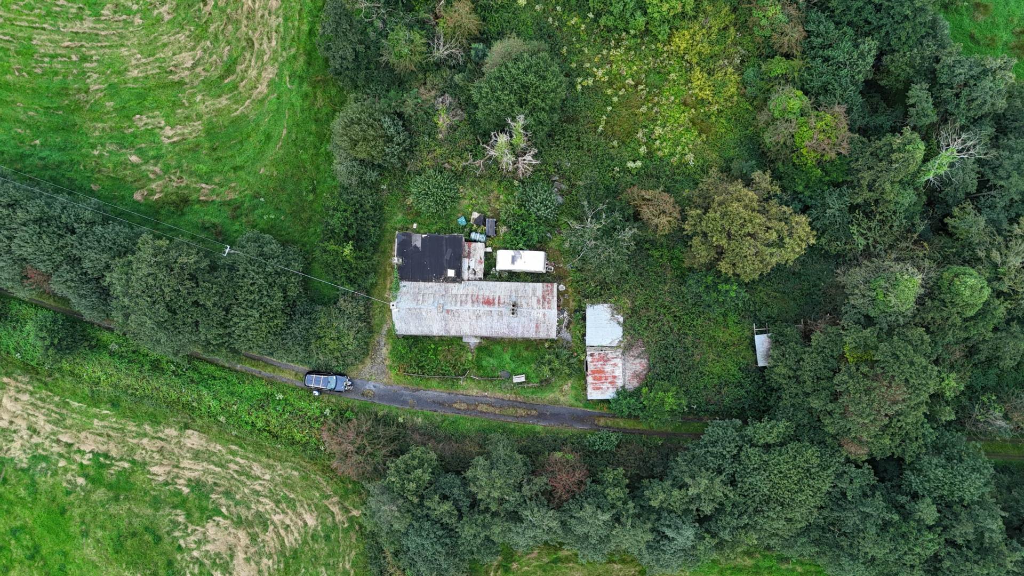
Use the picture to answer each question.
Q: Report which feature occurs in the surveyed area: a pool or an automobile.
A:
automobile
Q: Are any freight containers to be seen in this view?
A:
No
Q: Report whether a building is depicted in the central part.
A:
Yes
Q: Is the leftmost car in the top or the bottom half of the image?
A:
bottom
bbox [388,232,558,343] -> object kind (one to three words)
house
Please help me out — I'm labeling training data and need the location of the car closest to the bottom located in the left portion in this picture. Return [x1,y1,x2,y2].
[302,372,349,396]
